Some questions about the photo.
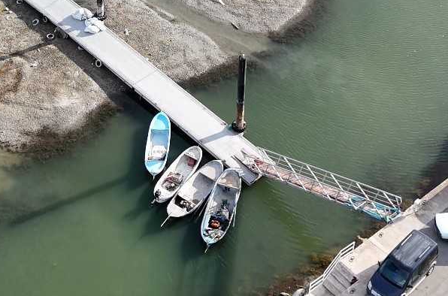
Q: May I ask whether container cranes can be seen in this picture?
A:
No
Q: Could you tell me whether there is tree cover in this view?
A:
No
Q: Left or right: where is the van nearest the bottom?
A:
right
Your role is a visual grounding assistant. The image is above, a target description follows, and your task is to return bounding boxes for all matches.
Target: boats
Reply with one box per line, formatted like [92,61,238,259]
[166,159,225,224]
[140,110,176,186]
[153,145,203,212]
[202,167,245,256]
